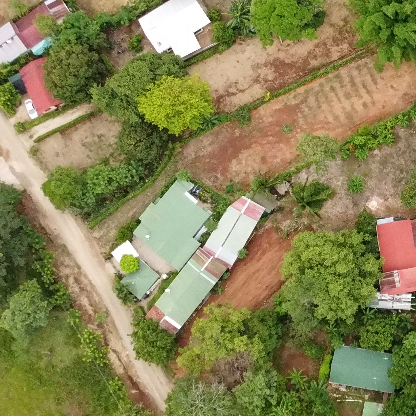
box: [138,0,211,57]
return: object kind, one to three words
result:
house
